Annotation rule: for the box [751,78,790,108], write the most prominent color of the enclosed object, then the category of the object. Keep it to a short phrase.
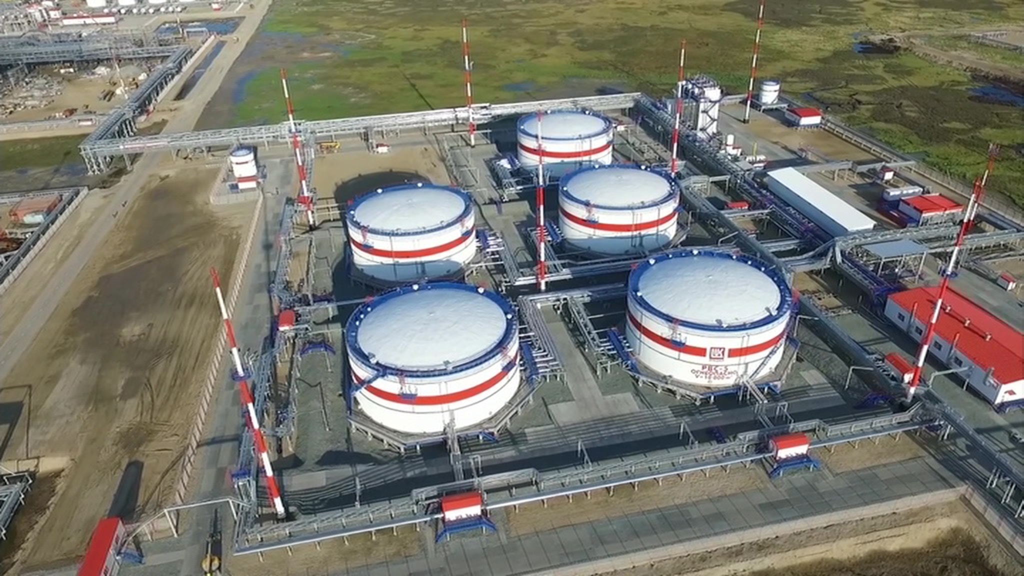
white water tank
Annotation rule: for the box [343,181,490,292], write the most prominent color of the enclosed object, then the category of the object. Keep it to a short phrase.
white storage tank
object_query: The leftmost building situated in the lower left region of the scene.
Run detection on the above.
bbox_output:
[61,506,144,576]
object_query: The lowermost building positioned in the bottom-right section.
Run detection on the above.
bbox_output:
[758,425,829,474]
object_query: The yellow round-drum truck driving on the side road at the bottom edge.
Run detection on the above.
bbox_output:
[196,534,222,576]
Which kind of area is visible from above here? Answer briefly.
industrial area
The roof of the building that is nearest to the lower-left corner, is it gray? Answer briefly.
No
